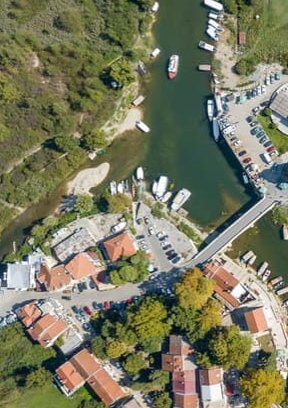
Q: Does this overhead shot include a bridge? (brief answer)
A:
Yes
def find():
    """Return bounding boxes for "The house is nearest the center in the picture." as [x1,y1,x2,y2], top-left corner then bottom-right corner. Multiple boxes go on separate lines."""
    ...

[105,231,140,261]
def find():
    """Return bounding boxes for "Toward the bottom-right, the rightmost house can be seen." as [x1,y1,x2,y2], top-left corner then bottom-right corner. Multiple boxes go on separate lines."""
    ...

[246,306,269,333]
